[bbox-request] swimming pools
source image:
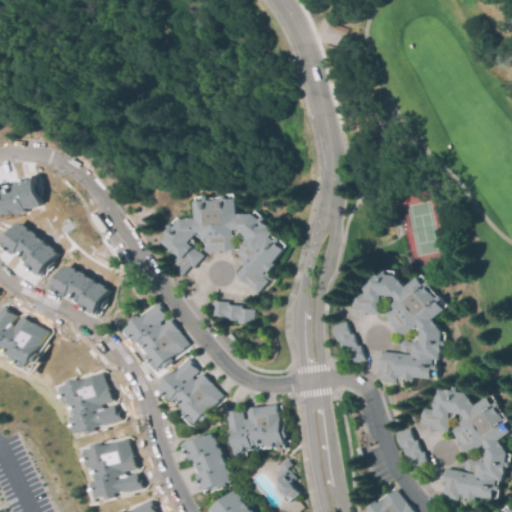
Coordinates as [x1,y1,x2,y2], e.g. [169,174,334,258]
[254,472,282,510]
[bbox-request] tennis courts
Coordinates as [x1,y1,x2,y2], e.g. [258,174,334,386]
[406,194,446,264]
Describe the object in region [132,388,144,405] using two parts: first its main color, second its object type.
white vehicle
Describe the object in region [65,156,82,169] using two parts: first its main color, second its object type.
white vehicle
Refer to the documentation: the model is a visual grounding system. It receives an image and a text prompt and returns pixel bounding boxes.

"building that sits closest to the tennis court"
[354,268,446,385]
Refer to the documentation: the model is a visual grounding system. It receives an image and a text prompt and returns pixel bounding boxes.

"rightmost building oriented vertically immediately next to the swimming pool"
[279,459,302,500]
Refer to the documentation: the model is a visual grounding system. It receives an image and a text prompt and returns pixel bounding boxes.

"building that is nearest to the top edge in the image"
[0,178,45,214]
